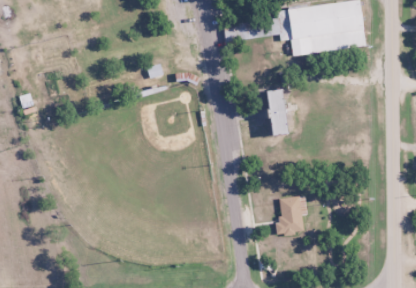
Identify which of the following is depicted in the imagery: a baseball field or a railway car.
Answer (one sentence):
It is a baseball field that can be seen here.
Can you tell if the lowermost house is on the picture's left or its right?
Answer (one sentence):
You can find the lowermost house on the right side of the picture.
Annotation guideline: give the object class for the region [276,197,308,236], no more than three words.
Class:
house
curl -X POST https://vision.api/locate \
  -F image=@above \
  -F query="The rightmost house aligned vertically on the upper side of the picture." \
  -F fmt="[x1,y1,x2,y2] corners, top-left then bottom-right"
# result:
[268,89,290,136]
